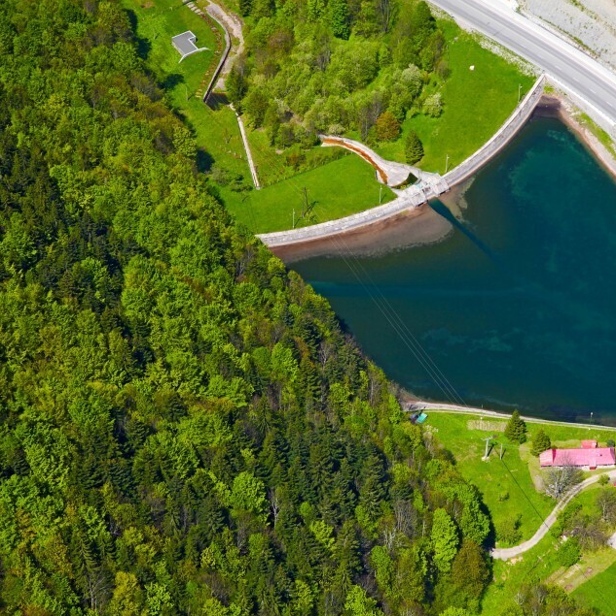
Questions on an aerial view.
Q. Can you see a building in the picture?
Yes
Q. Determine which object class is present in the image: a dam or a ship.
dam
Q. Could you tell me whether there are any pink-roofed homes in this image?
Yes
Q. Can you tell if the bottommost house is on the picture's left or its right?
right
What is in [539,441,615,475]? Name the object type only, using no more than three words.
house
